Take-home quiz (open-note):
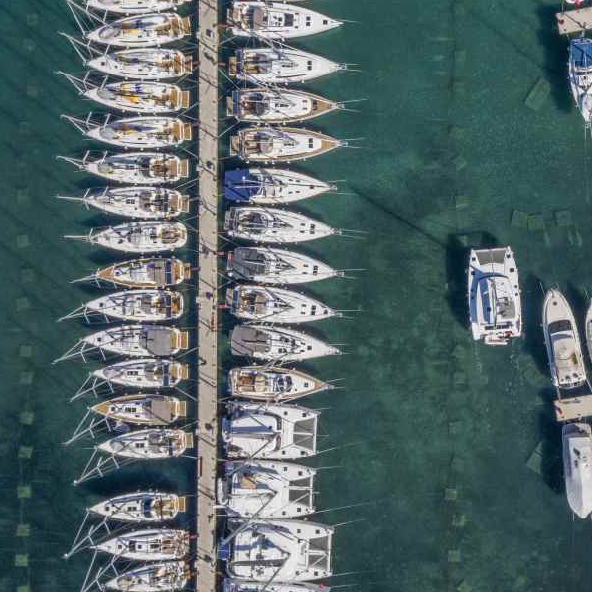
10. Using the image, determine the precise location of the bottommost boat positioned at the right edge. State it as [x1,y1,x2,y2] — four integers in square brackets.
[561,415,592,562]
